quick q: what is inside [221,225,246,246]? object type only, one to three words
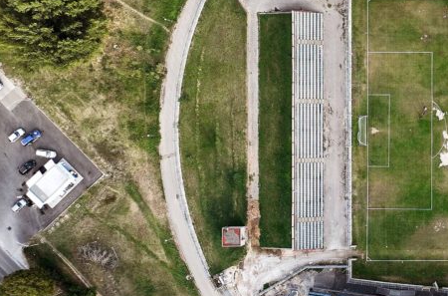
shed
